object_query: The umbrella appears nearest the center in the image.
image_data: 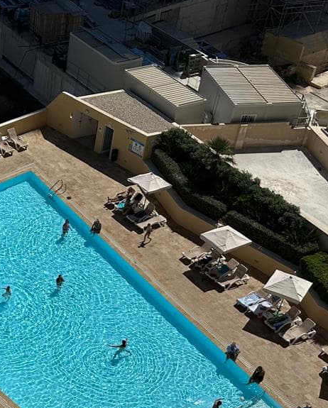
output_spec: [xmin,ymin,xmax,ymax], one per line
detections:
[127,172,173,204]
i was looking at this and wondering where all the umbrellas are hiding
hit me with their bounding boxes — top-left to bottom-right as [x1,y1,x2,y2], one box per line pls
[260,272,312,314]
[198,227,252,271]
[127,172,173,204]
